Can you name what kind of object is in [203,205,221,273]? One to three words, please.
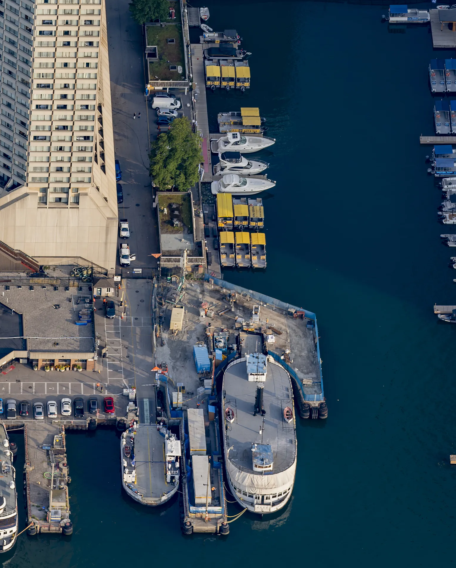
pier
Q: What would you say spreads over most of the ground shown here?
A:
water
